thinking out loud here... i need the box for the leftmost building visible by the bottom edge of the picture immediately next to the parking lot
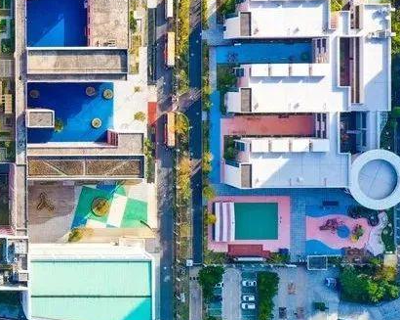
[26,242,155,320]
